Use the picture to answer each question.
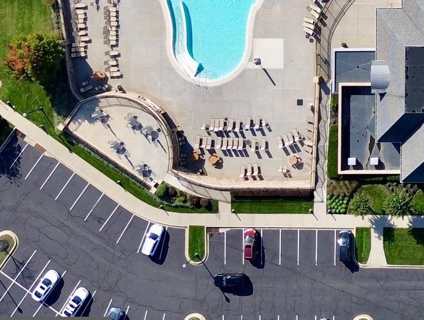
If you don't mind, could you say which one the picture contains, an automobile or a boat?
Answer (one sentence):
The image shows an automobile.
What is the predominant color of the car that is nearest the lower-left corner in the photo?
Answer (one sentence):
The car that is nearest the lower-left corner looks white in the image.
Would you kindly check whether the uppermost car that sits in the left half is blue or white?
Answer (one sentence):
The uppermost car that sits in the left half is white.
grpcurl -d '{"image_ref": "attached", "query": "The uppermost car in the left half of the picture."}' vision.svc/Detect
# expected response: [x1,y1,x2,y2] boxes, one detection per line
[140,222,164,256]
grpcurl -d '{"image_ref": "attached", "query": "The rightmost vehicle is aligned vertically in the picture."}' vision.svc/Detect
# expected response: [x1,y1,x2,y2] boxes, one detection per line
[337,229,352,263]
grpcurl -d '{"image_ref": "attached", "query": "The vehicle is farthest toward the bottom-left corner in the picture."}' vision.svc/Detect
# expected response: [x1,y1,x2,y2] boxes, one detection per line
[33,269,61,302]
